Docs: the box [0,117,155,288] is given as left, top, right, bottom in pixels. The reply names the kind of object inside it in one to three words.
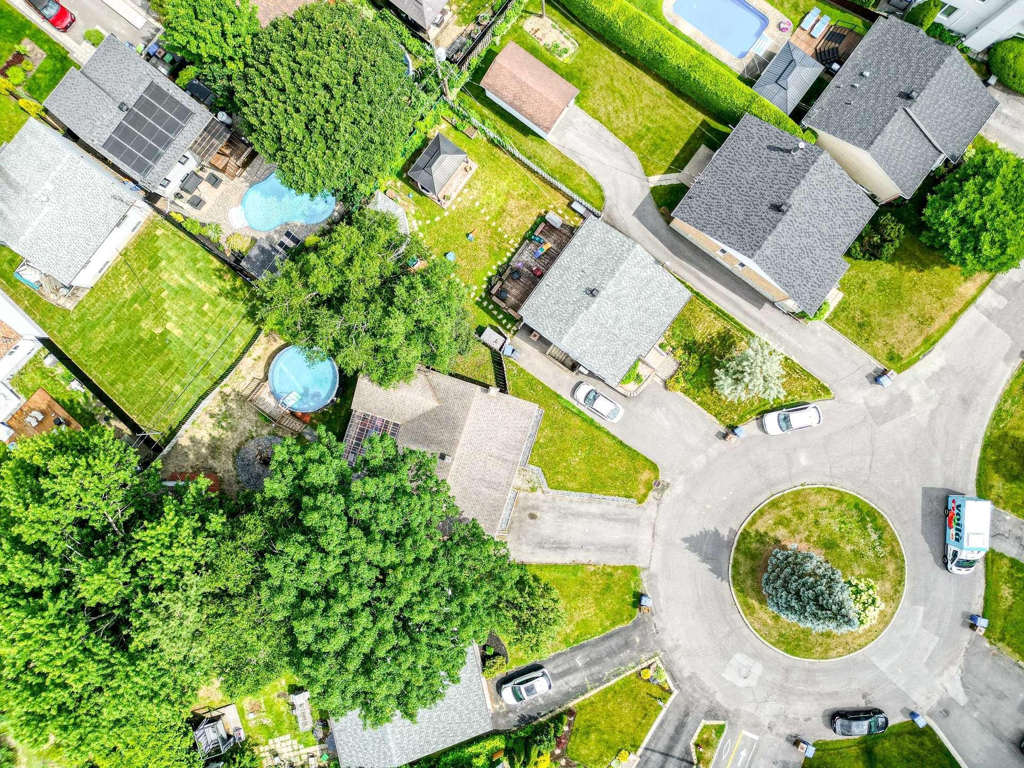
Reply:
house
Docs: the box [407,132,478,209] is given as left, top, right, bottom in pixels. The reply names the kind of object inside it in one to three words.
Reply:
gazebo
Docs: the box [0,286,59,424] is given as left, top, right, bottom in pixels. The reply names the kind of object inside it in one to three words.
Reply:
house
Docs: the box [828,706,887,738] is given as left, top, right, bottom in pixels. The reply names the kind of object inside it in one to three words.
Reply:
car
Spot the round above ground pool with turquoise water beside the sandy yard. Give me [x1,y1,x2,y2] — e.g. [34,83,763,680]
[268,343,343,414]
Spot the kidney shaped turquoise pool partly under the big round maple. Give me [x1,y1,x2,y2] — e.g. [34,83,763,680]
[226,167,338,233]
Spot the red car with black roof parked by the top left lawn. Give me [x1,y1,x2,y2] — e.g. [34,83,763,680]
[28,0,80,35]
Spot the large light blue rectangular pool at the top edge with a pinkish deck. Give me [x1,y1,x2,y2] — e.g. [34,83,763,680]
[674,0,774,57]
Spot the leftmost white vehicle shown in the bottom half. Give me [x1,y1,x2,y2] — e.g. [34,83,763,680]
[498,665,554,705]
